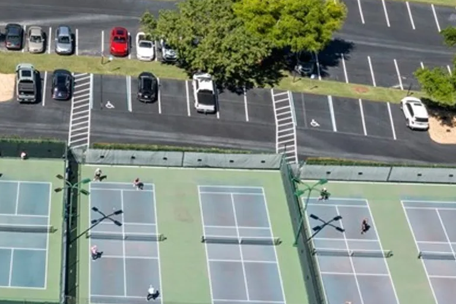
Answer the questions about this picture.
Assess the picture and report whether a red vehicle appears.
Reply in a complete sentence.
Yes, I can see a red vehicle in this picture.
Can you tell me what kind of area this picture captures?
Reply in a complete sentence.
It's a sports ground.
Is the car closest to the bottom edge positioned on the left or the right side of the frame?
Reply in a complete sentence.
You can find the car closest to the bottom edge on the right side of the picture.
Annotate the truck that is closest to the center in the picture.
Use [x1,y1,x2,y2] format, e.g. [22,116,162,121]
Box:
[194,73,217,110]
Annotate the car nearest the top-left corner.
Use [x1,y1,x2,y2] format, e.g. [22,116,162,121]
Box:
[5,22,23,49]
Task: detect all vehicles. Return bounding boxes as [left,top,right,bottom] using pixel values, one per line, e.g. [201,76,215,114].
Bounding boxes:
[405,96,432,129]
[16,64,38,101]
[160,34,179,61]
[55,20,74,51]
[27,23,46,51]
[136,31,155,58]
[52,68,73,99]
[194,73,217,110]
[138,71,158,101]
[5,22,23,49]
[110,27,130,53]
